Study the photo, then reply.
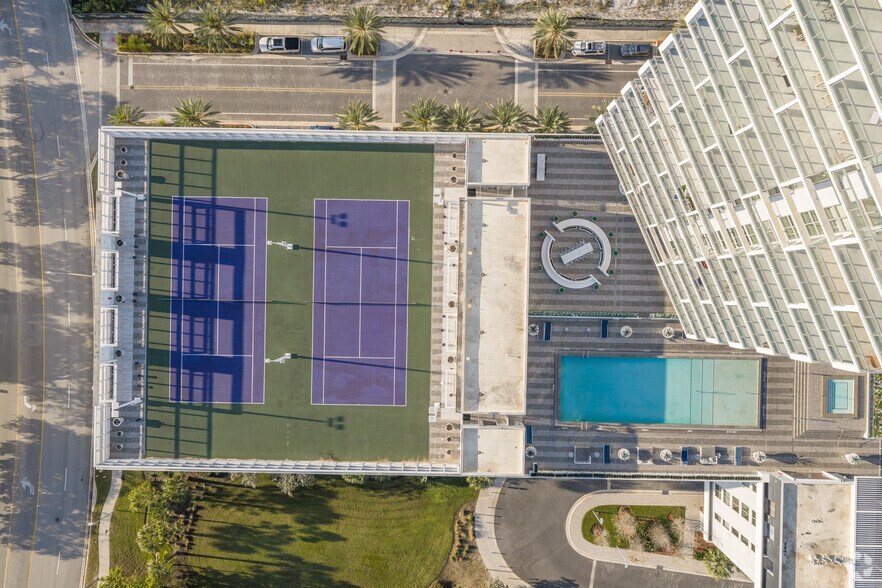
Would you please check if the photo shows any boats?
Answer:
No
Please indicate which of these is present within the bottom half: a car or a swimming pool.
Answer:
swimming pool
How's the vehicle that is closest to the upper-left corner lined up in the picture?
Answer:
from left to right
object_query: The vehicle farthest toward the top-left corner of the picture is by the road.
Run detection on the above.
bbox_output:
[259,37,301,57]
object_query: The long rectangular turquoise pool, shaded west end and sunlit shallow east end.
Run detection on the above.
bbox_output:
[551,350,769,436]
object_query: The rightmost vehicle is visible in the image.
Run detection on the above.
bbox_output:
[619,41,651,59]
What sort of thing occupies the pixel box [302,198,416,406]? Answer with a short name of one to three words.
tennis court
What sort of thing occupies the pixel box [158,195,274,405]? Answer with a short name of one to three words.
tennis court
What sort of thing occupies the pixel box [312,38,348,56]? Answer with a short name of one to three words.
car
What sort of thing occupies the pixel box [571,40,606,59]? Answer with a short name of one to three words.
vehicle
